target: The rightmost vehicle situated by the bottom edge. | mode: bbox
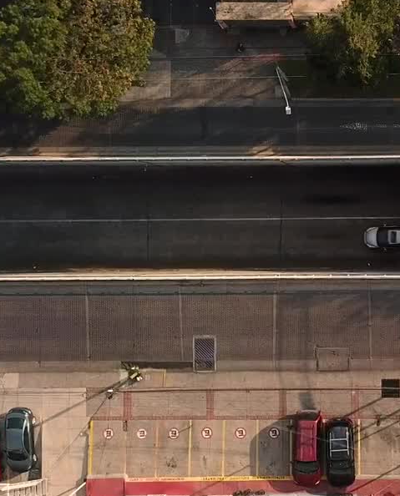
[324,418,357,486]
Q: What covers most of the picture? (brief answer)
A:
paved ground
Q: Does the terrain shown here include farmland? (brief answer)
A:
No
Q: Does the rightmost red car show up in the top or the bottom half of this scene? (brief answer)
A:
bottom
